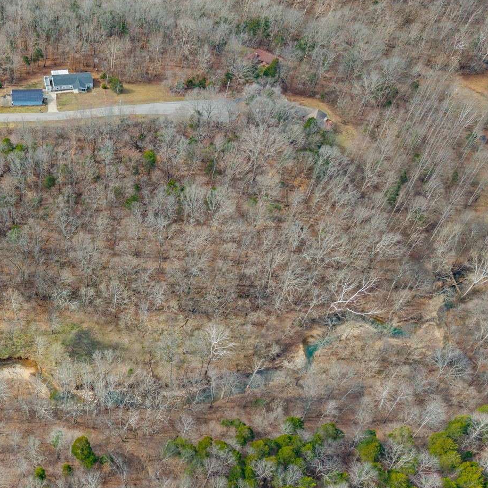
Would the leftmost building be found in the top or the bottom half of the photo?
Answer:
top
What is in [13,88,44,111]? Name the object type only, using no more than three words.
building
